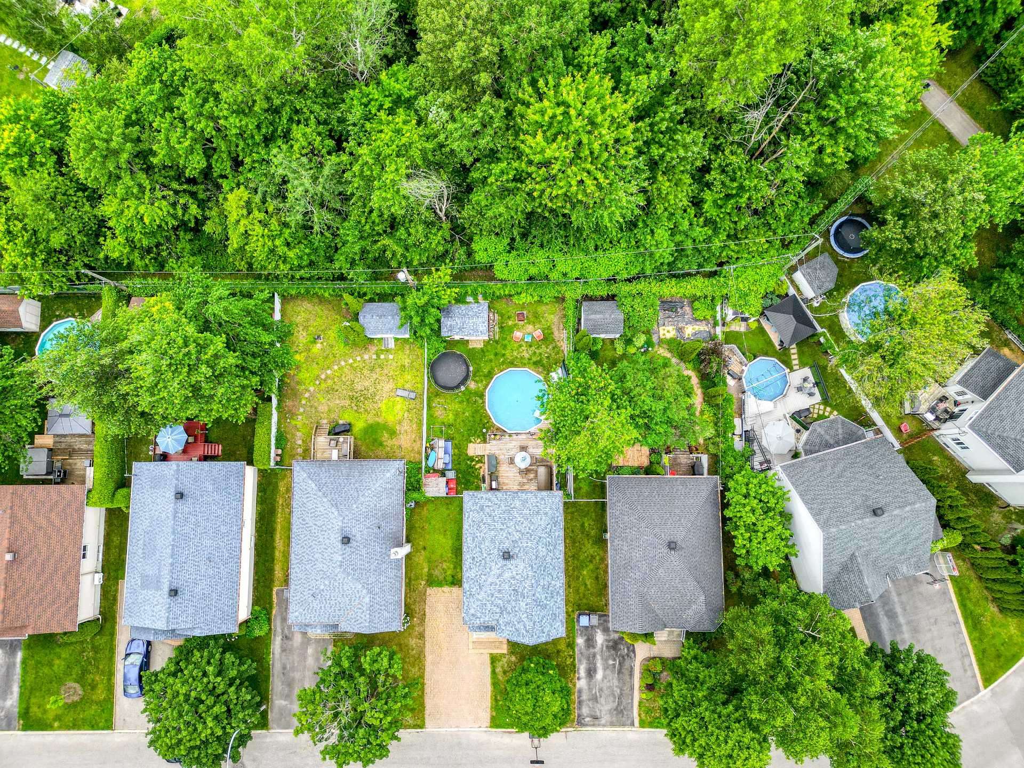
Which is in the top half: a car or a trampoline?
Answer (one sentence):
There is a trampoline in the top half.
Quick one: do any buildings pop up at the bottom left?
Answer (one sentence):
Yes, a building is visible at the bottom left.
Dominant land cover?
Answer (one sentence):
For the most part, this view shows trees.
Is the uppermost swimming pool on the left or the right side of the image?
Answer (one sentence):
The uppermost swimming pool is on the right side of the image.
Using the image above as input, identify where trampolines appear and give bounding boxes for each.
[427,347,472,393]
[827,208,883,260]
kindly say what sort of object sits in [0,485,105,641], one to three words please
house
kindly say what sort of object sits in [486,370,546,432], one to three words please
swimming pool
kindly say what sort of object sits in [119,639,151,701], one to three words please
car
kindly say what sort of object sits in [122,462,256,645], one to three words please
house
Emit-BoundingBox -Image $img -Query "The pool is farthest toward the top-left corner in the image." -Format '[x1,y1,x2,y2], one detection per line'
[37,317,99,397]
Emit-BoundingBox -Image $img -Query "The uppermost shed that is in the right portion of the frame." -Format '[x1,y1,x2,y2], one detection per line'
[793,251,844,297]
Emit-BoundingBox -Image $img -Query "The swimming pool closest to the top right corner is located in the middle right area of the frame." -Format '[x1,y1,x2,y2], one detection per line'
[835,279,910,348]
